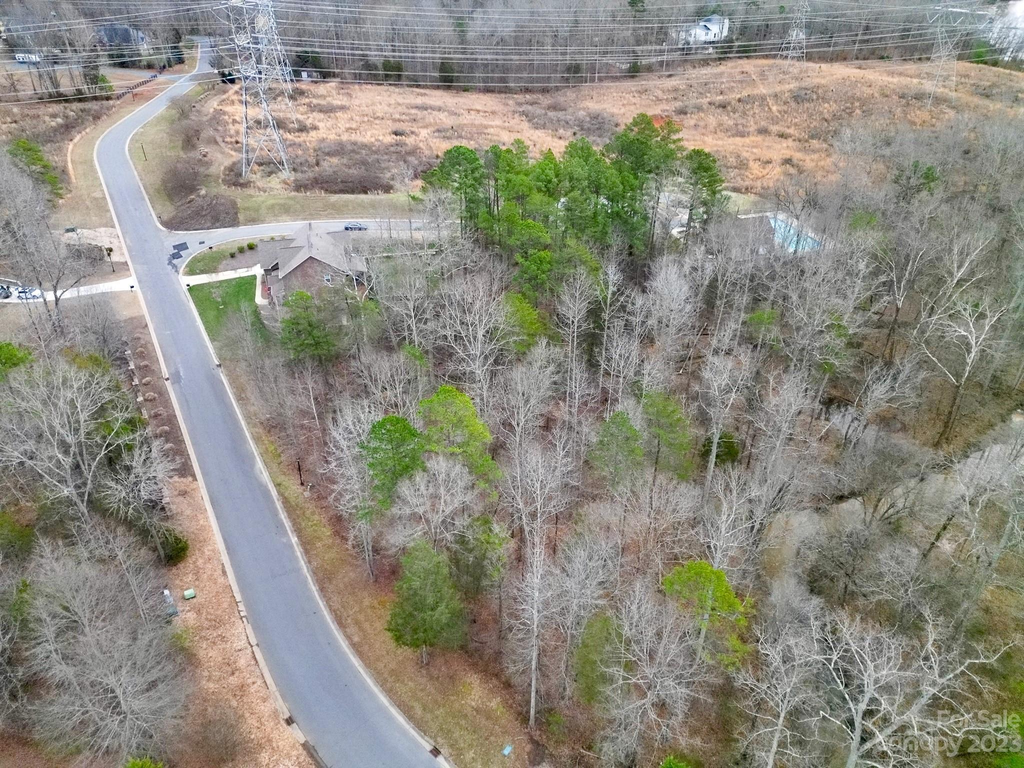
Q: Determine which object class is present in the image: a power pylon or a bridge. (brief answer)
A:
power pylon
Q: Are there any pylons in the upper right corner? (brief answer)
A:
Yes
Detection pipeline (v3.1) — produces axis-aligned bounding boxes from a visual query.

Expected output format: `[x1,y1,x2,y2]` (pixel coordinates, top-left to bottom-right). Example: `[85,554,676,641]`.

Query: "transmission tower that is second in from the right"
[782,0,815,72]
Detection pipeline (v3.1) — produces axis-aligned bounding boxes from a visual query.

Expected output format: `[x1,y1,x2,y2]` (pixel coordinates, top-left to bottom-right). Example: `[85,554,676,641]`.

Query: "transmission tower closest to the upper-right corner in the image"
[924,0,983,98]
